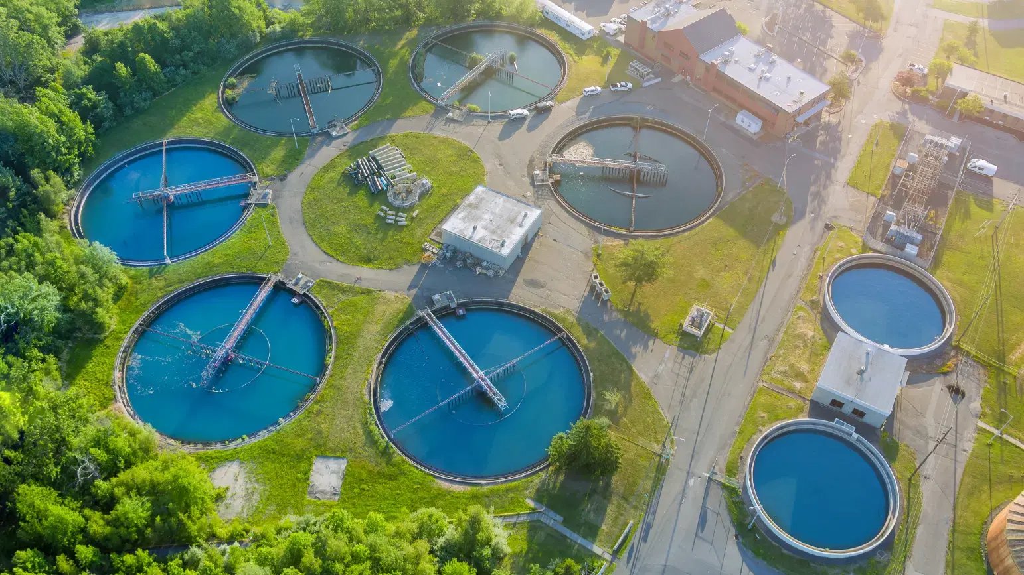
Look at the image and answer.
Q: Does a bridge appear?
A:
Yes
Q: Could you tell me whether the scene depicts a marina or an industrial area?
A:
industrial area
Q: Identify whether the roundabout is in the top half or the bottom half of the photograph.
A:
top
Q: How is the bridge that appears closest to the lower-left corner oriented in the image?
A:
on a diagonal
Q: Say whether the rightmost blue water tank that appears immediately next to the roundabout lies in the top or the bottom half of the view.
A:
bottom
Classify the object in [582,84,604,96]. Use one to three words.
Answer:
vehicle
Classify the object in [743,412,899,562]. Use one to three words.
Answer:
water tank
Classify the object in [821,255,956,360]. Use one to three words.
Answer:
water tank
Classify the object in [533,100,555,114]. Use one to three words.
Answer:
vehicle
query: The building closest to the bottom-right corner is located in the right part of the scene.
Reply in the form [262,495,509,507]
[810,331,910,430]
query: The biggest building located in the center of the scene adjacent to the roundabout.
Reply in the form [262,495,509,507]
[434,184,542,272]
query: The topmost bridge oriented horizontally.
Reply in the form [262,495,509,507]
[545,151,667,176]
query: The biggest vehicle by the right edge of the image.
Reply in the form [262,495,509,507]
[969,158,1001,175]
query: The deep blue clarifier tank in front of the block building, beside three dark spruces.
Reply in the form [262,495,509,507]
[368,289,595,487]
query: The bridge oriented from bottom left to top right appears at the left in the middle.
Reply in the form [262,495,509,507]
[197,269,284,390]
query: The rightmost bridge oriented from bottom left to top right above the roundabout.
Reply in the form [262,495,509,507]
[435,46,505,107]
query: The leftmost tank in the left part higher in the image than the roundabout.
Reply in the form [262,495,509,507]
[216,36,384,139]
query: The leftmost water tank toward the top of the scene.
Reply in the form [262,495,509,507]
[66,135,273,268]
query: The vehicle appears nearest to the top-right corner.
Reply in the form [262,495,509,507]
[907,62,931,74]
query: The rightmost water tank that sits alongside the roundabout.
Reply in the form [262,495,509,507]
[534,113,729,237]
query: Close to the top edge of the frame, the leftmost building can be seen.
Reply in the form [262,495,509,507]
[621,0,832,139]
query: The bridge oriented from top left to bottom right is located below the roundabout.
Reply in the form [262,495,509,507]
[417,303,509,412]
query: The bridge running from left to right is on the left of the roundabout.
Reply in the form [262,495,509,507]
[132,171,262,204]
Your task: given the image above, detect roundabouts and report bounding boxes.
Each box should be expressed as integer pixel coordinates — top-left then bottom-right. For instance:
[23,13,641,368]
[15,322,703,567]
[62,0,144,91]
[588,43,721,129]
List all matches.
[302,131,486,269]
